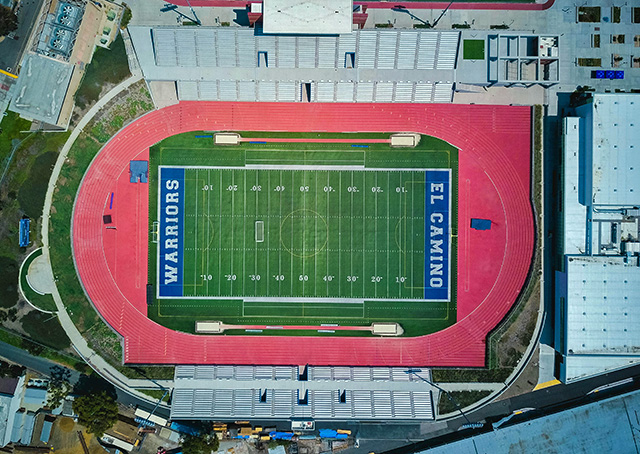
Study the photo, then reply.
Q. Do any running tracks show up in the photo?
Yes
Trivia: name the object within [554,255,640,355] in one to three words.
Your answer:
building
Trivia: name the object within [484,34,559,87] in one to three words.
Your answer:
building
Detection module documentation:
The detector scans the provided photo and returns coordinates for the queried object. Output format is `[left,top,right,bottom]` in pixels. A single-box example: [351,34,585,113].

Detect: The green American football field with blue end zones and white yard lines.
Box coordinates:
[148,131,461,338]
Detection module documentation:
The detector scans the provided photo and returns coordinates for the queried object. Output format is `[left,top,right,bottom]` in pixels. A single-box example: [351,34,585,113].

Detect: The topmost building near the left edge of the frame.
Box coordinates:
[8,52,85,128]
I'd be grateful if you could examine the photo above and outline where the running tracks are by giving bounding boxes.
[72,101,534,367]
